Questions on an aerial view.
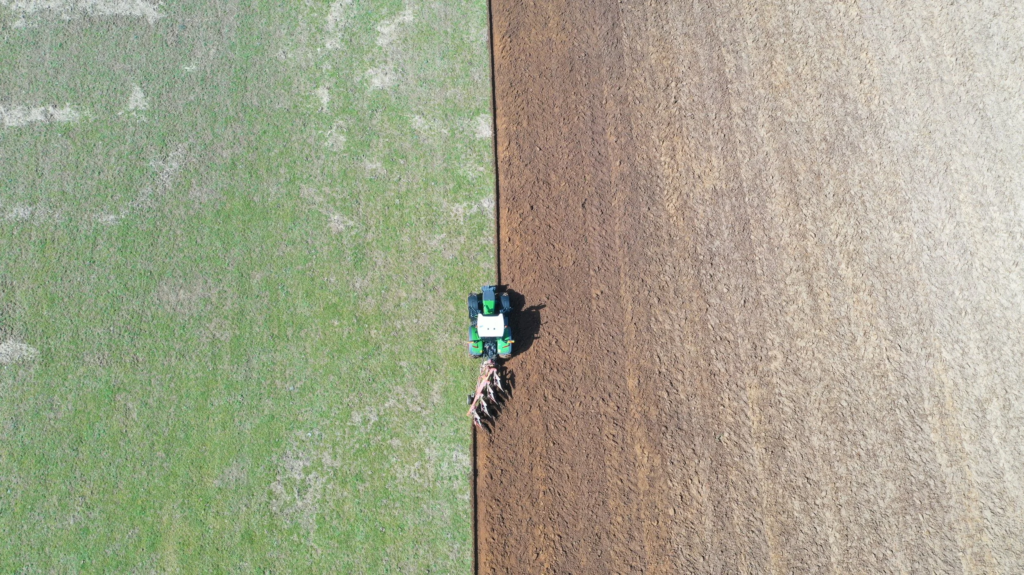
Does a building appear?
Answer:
No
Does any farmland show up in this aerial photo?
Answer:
Yes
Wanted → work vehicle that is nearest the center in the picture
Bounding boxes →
[467,284,513,363]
